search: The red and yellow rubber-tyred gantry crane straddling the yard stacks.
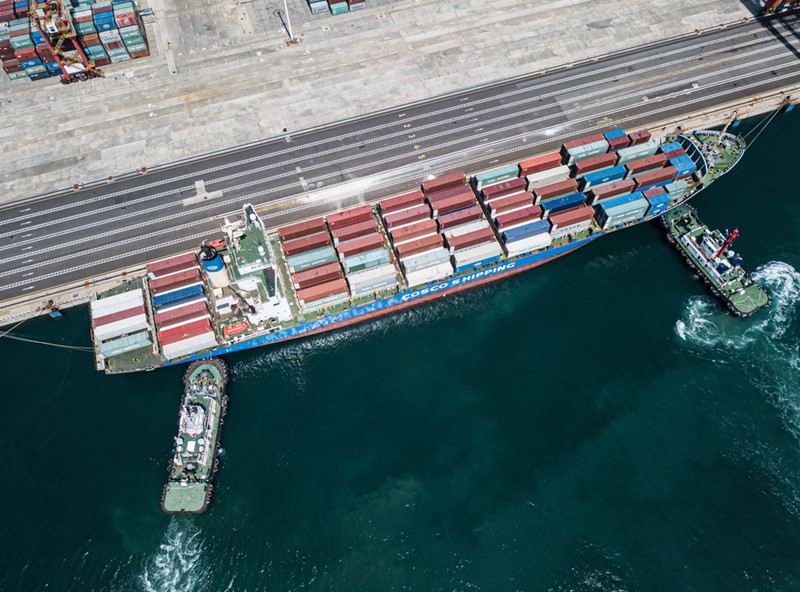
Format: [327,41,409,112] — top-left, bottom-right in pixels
[25,0,100,82]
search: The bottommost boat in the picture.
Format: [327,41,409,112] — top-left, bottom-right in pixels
[158,358,228,517]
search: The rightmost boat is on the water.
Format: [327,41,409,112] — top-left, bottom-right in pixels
[663,202,774,320]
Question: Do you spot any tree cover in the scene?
No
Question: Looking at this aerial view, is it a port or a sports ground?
port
